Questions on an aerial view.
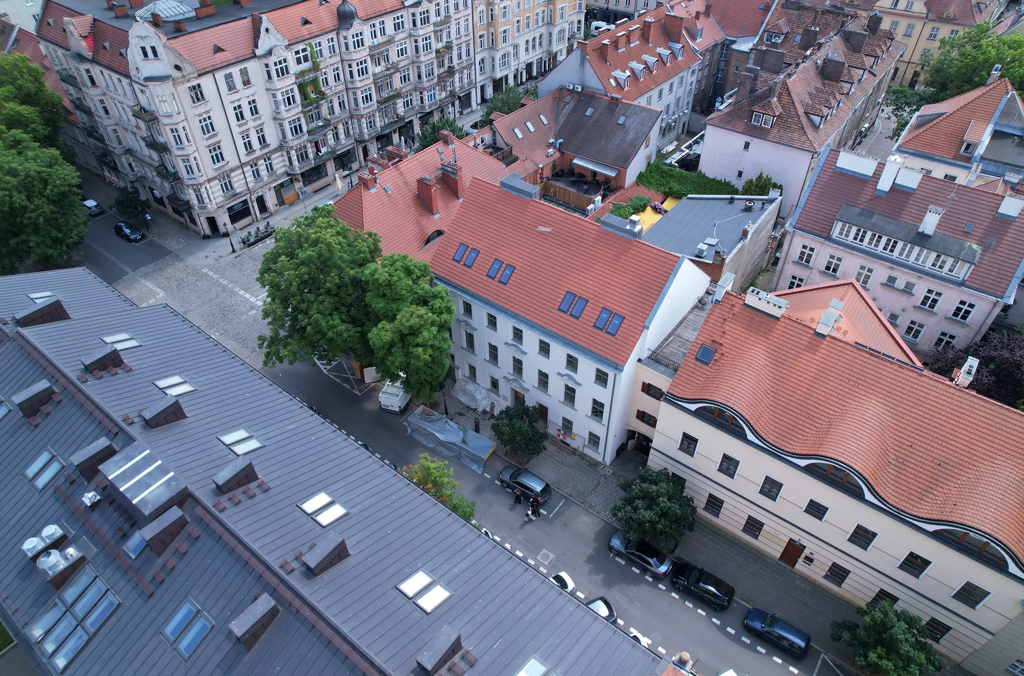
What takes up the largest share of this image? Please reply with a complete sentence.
Most of the picture is covered by buildings.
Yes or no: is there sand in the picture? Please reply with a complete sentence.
No, there's no sand in this view.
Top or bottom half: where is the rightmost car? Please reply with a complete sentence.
It is in the bottom half that the rightmost car appears.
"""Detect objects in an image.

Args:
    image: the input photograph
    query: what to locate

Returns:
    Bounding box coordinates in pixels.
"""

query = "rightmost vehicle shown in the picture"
[740,606,817,668]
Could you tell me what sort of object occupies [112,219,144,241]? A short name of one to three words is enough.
car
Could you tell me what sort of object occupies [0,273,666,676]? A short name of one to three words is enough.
building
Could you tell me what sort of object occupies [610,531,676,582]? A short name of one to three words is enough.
car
